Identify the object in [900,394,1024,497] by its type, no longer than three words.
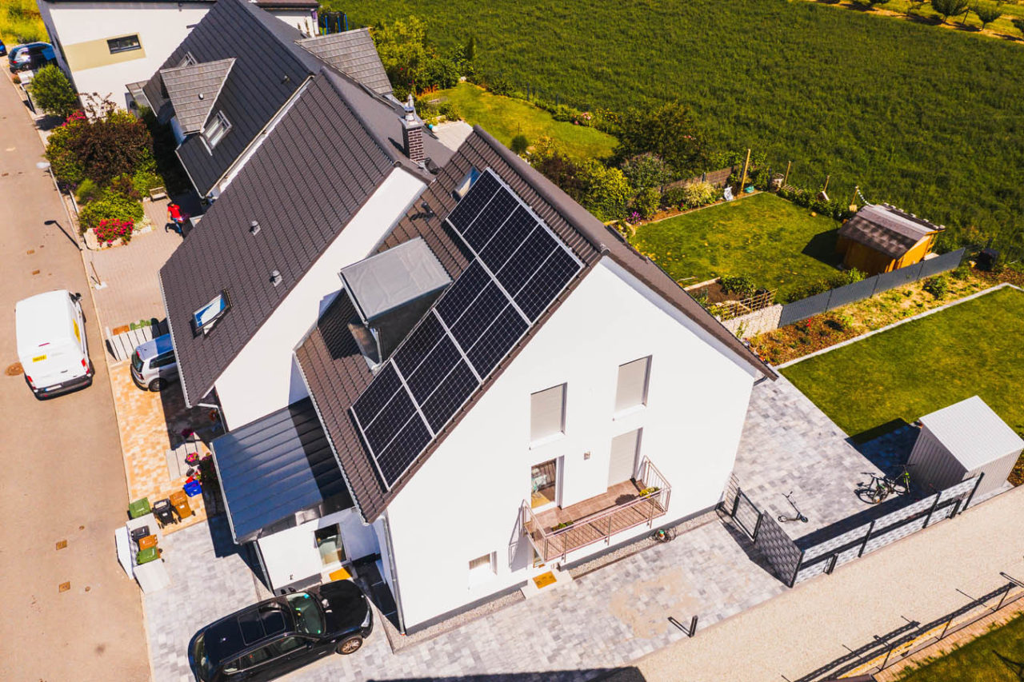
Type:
shed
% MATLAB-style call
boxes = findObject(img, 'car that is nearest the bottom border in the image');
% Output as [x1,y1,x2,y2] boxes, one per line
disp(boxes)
[189,571,371,682]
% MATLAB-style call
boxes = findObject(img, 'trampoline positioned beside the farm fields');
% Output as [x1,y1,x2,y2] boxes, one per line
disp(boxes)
[315,0,352,31]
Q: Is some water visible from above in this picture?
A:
No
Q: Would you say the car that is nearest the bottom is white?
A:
No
